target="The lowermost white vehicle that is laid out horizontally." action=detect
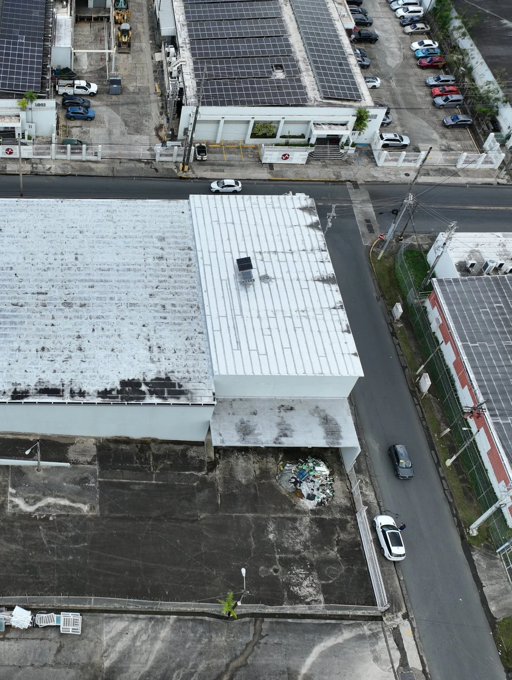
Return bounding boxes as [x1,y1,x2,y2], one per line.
[208,178,243,193]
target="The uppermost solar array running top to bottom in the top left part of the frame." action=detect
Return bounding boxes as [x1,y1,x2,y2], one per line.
[0,0,45,92]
